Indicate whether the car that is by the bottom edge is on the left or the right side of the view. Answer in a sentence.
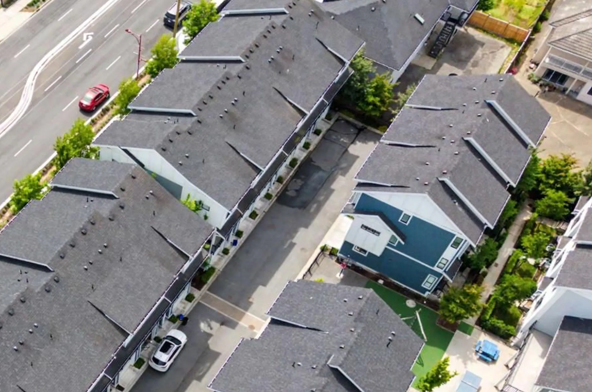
It is on the left.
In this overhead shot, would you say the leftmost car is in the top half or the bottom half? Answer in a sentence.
Seen from above, the leftmost car lies in the top half of the view.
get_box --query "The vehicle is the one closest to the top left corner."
[76,82,110,112]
